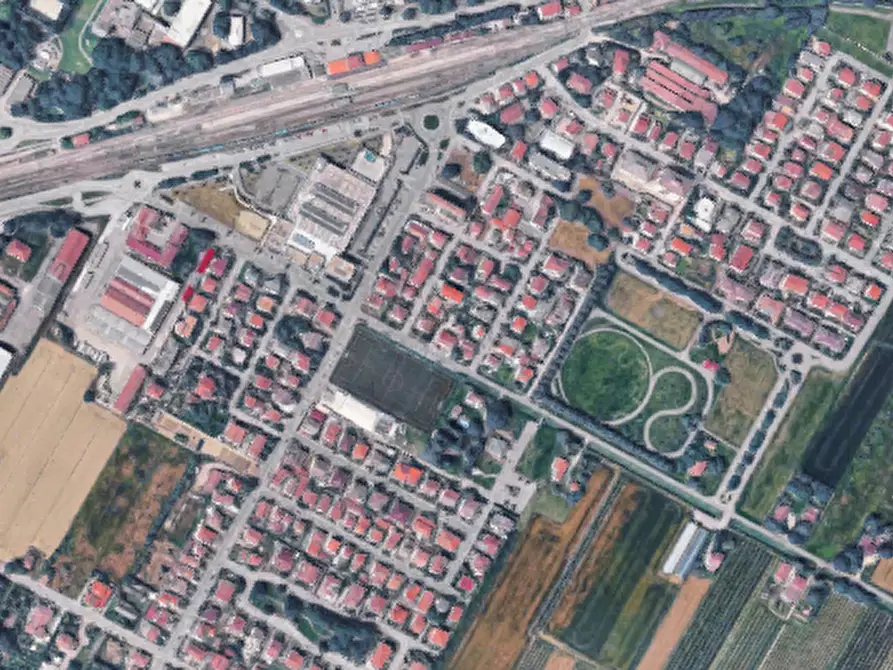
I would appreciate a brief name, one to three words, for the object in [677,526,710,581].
greenhouse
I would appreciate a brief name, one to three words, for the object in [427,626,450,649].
house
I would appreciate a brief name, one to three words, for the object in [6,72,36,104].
building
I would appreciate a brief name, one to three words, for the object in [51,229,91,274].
barn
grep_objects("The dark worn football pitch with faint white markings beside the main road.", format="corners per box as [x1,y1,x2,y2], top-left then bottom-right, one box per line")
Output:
[331,323,453,430]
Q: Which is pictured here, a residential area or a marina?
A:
residential area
